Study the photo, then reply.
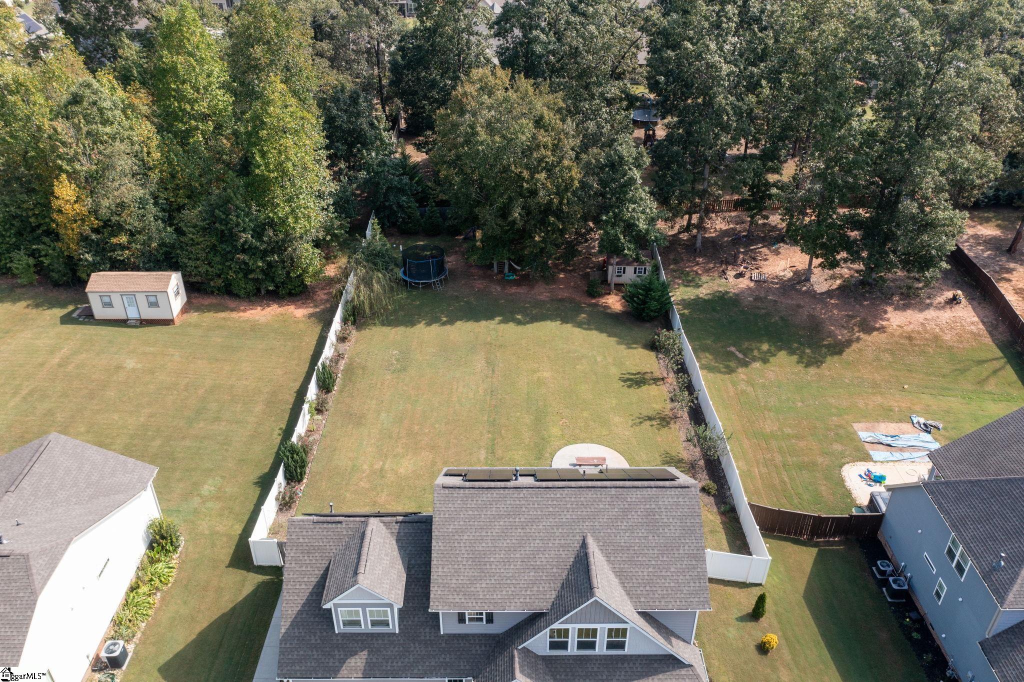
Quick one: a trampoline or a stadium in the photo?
trampoline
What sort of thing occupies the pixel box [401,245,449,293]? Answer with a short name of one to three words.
trampoline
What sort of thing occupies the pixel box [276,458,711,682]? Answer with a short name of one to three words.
house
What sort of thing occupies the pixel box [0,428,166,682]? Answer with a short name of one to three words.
house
